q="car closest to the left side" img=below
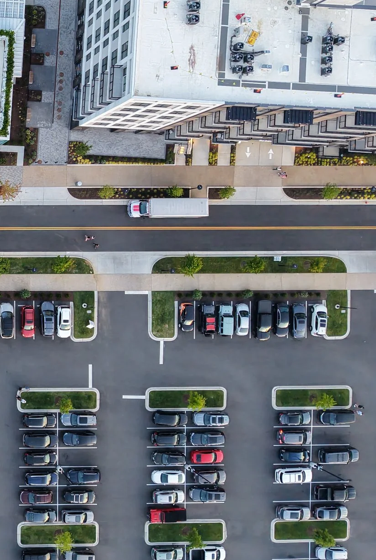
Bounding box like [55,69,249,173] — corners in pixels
[0,302,16,338]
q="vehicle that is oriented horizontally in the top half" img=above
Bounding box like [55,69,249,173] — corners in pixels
[122,197,209,218]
